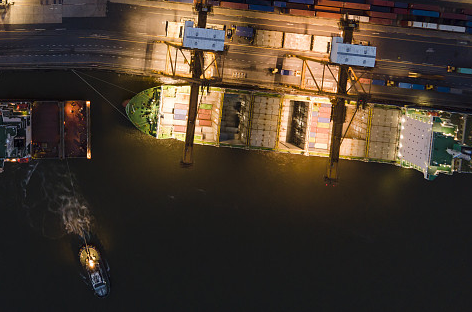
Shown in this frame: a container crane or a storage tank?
container crane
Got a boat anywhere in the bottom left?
Yes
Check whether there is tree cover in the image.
No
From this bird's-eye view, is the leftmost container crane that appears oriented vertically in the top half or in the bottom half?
top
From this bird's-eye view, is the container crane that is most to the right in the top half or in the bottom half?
top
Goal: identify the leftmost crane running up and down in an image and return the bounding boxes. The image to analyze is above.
[152,0,230,170]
